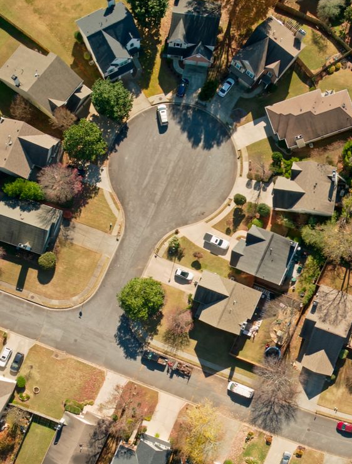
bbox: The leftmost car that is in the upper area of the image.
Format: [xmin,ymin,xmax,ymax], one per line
[156,104,169,125]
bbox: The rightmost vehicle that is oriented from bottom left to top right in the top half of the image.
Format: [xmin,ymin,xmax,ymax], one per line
[218,77,233,97]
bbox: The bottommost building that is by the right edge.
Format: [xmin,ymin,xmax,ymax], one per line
[297,285,352,377]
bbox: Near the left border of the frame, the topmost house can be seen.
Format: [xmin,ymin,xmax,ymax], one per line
[0,43,96,124]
